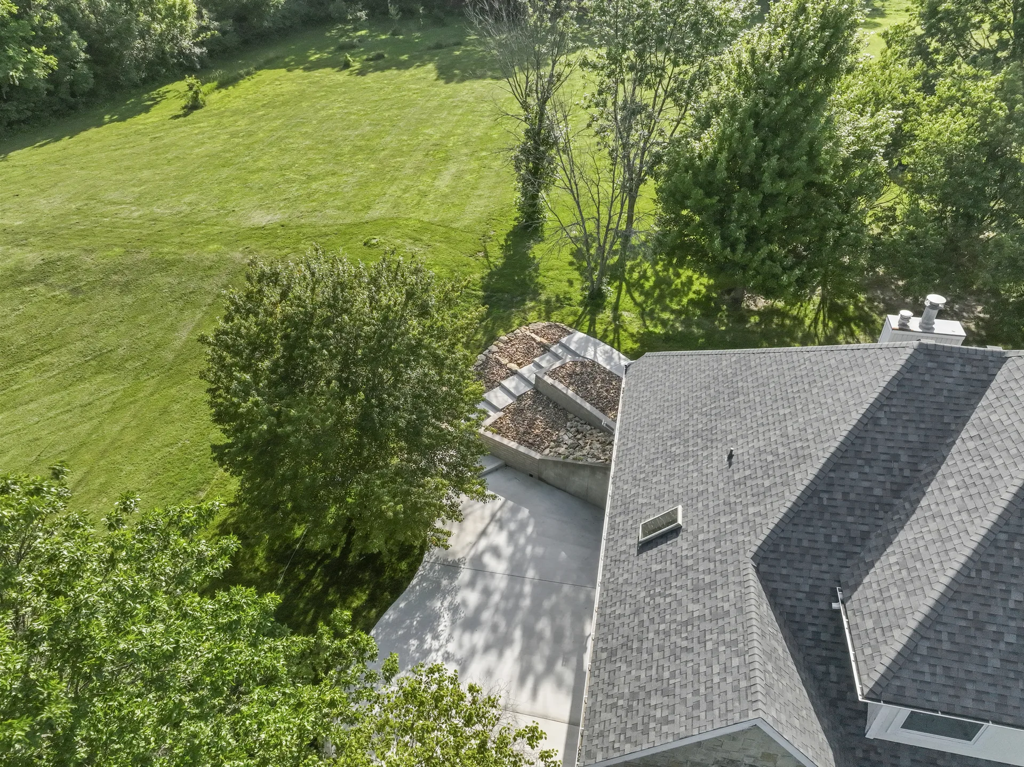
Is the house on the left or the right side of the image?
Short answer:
right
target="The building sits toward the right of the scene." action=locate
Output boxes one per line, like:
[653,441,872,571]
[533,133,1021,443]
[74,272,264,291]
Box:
[572,294,1024,767]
